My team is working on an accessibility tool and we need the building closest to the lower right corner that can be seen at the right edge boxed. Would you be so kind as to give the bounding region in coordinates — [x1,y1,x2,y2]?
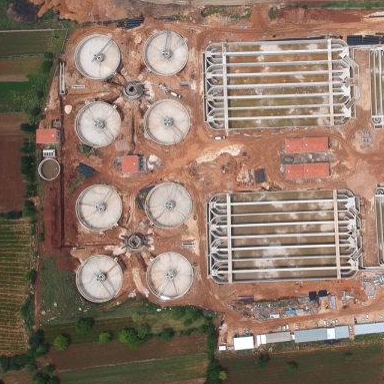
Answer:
[353,321,384,335]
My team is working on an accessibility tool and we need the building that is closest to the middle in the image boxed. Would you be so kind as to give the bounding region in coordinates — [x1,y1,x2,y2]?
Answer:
[121,156,147,172]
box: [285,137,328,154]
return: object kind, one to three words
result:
building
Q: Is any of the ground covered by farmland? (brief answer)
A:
Yes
